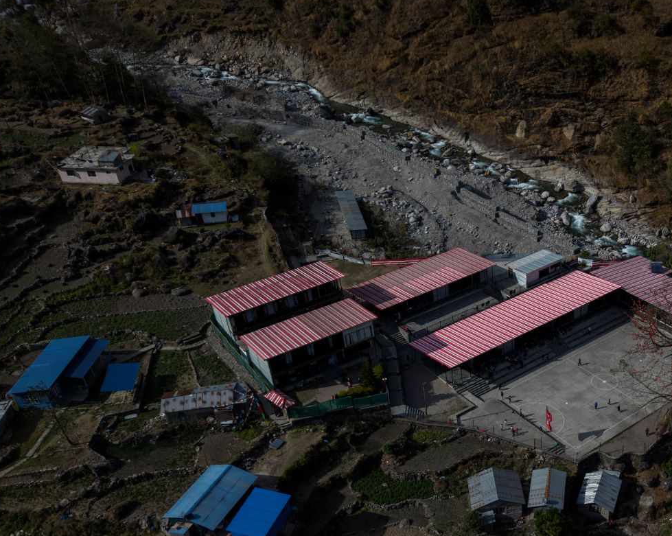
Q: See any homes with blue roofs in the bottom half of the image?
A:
Yes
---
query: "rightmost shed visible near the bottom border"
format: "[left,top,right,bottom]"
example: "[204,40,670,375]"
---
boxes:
[576,468,624,524]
